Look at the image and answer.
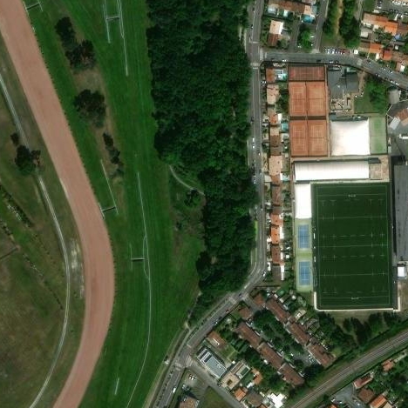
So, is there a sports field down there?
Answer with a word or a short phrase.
Yes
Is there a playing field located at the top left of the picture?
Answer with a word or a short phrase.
No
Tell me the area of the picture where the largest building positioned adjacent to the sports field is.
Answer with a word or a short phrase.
right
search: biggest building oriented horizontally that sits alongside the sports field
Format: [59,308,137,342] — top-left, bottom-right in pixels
[294,161,369,182]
